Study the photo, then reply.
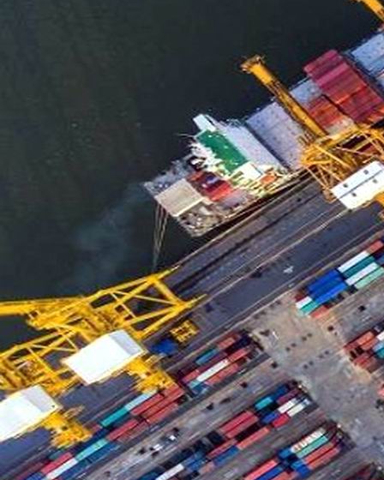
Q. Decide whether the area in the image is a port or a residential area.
port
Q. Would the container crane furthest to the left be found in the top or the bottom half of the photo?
bottom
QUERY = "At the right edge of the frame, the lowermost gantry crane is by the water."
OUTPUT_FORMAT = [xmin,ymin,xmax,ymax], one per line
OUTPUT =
[231,60,384,229]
